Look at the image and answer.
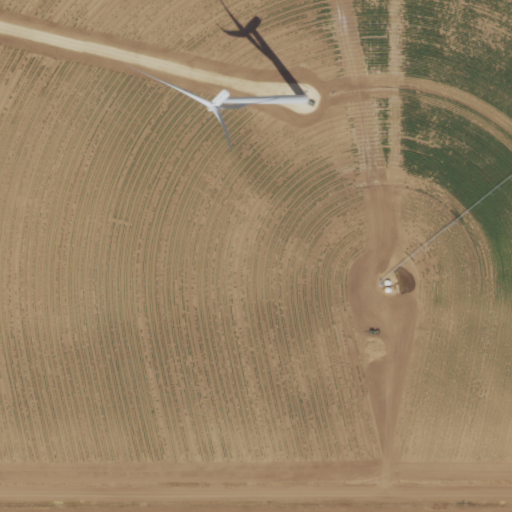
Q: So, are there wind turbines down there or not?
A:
Yes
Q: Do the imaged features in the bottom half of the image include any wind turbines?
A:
No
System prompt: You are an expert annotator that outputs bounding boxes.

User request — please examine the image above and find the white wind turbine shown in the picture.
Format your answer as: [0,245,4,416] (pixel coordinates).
[129,67,314,150]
